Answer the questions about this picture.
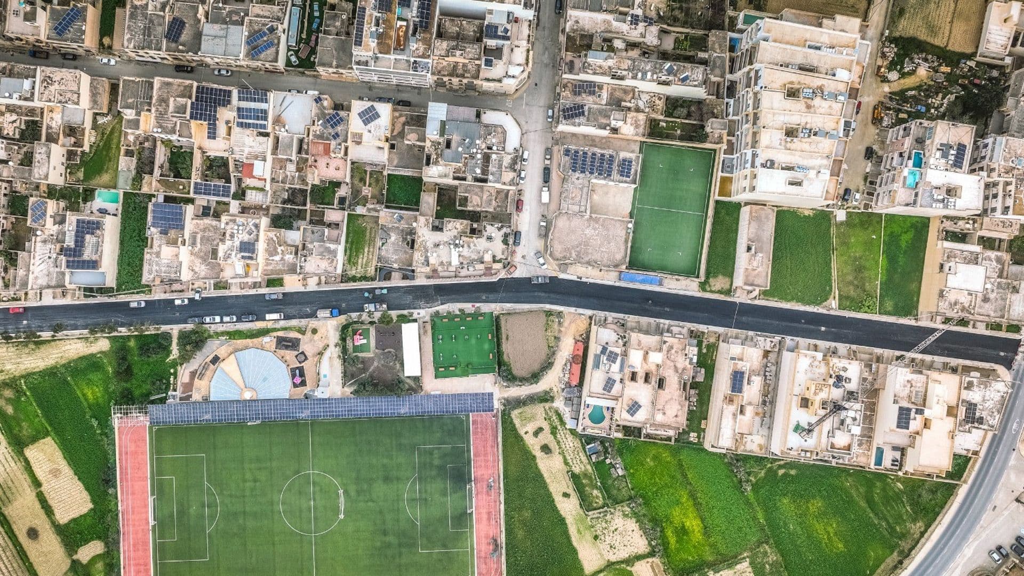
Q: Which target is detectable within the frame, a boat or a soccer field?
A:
soccer field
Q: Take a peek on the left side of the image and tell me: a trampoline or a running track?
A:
running track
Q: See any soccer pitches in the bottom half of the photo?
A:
Yes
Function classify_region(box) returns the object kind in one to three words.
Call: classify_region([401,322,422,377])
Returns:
tent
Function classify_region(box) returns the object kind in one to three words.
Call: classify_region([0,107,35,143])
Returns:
house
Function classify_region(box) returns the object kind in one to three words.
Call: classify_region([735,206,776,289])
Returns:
building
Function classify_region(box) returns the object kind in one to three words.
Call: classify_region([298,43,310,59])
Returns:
vehicle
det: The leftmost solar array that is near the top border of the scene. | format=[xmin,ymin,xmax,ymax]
[51,6,80,37]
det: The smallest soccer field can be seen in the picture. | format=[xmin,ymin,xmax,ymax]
[628,144,716,278]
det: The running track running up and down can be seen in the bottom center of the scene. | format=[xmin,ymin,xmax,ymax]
[470,413,504,576]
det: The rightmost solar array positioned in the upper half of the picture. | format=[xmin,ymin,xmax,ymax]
[956,142,969,169]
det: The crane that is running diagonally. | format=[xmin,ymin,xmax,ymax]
[799,318,964,437]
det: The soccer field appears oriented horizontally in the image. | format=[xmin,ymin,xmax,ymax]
[150,414,475,576]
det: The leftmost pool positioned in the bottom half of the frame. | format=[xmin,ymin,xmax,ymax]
[588,405,607,426]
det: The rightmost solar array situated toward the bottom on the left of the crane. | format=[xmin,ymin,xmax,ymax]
[732,371,745,394]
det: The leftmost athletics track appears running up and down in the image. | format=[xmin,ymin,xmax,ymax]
[114,420,152,576]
